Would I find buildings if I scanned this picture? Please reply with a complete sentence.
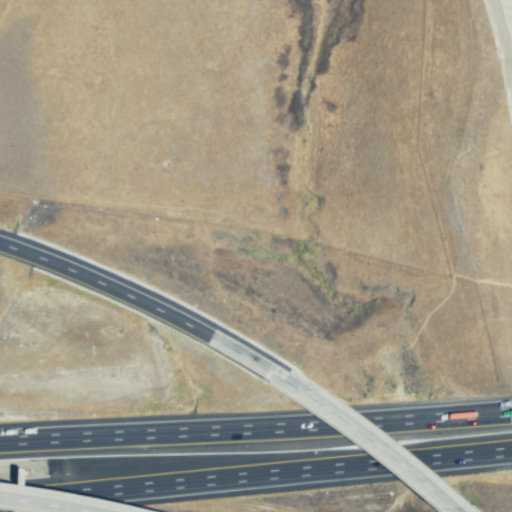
No, there isn't any building down there.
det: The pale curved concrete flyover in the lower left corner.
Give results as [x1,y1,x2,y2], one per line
[0,468,162,512]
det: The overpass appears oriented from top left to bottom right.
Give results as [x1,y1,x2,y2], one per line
[276,367,484,512]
